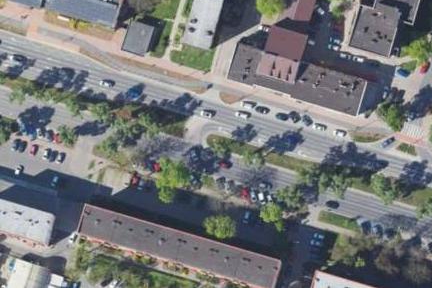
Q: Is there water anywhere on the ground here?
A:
No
